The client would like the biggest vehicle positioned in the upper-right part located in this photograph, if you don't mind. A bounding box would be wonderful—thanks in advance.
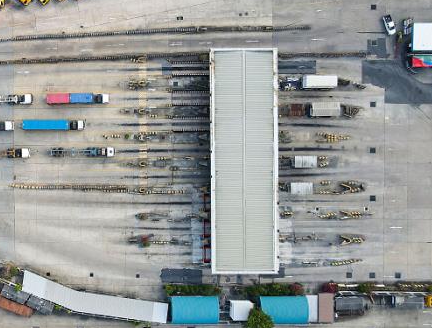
[381,15,394,35]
